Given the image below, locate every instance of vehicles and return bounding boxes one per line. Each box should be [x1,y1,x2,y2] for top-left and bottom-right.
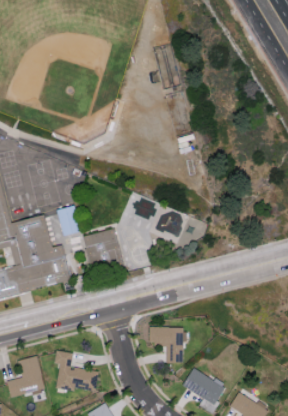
[52,322,62,326]
[115,362,122,374]
[221,280,230,285]
[194,286,204,291]
[194,396,202,402]
[8,364,13,374]
[130,394,136,402]
[227,408,234,416]
[2,368,8,378]
[184,389,192,398]
[159,293,170,300]
[88,313,98,318]
[74,354,85,358]
[14,208,25,213]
